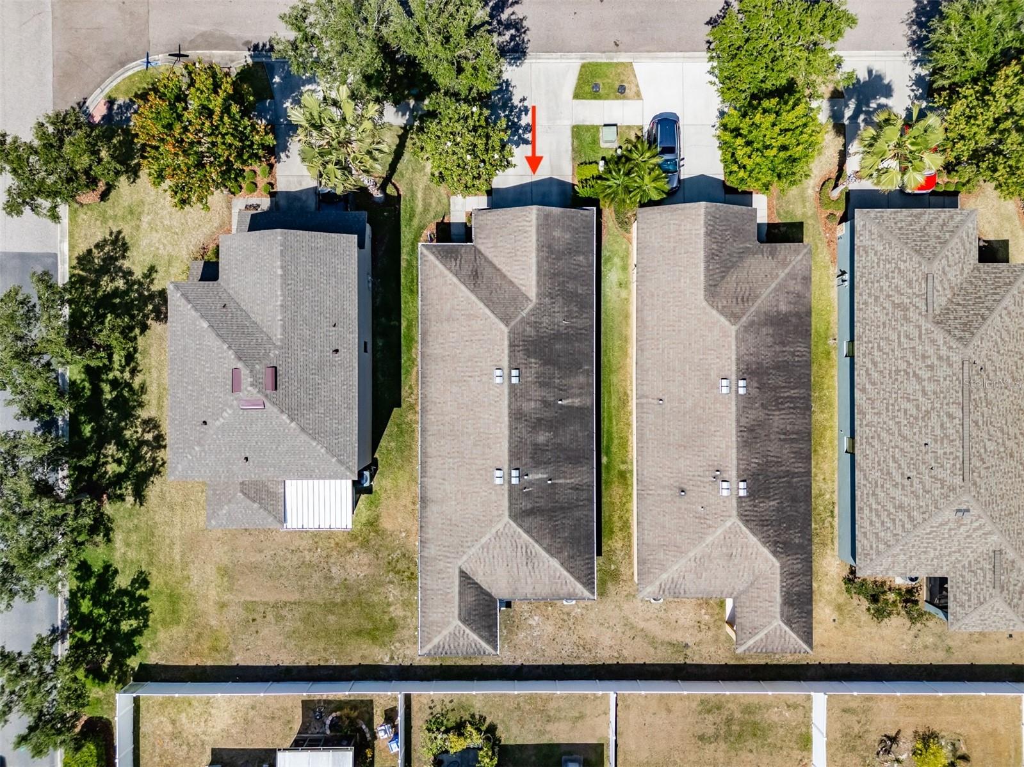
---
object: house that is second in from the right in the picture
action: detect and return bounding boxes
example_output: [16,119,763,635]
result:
[632,200,813,656]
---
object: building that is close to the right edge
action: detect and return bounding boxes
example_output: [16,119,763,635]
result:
[836,208,1024,633]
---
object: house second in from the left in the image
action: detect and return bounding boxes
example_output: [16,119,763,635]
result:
[418,203,598,657]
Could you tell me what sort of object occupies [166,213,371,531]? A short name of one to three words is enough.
house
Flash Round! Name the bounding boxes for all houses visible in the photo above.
[632,200,813,656]
[836,208,1024,633]
[166,213,371,531]
[418,203,598,657]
